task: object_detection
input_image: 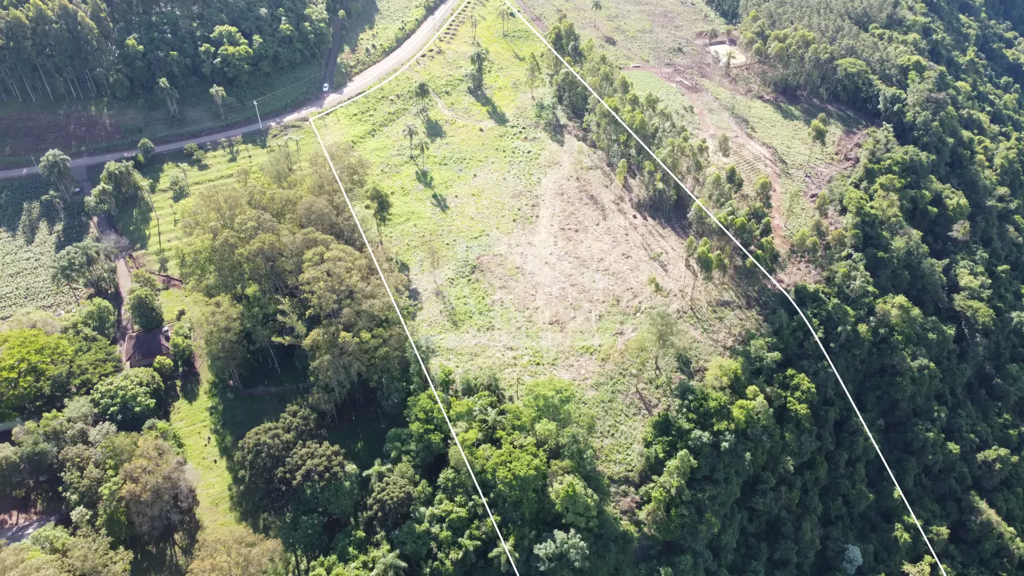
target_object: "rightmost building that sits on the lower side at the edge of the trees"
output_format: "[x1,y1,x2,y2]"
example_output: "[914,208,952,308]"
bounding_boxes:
[125,329,177,377]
